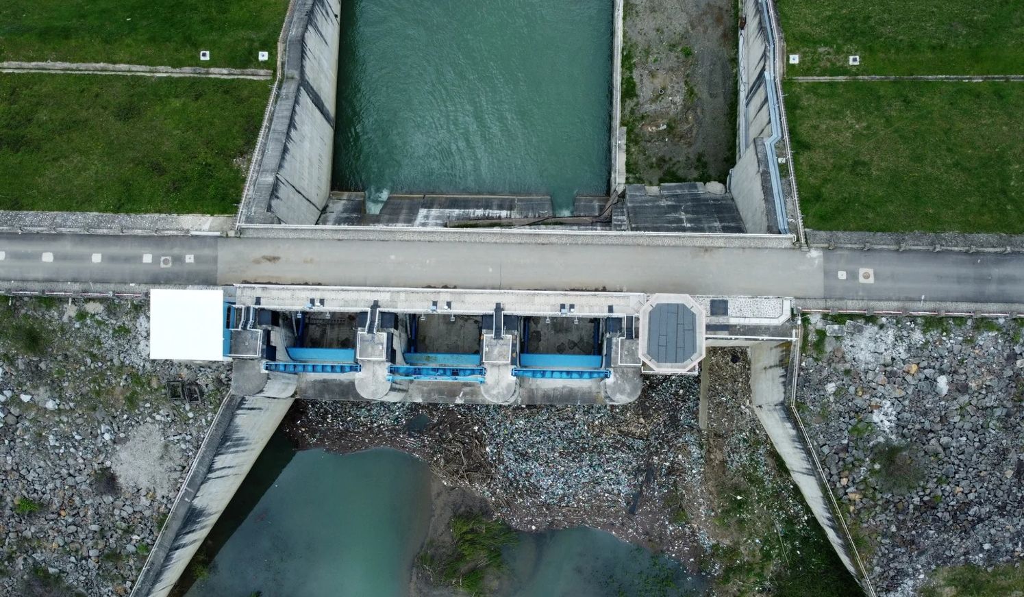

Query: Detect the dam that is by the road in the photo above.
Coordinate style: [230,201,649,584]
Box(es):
[229,0,795,429]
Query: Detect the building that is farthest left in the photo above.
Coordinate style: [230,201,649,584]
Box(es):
[151,286,242,362]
